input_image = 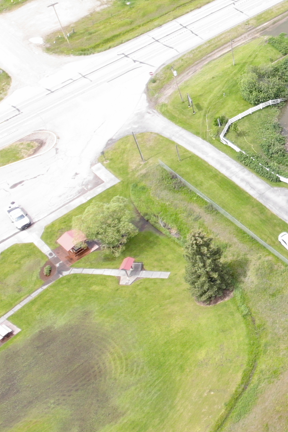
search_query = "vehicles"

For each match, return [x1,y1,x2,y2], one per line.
[0,200,29,228]
[274,227,288,249]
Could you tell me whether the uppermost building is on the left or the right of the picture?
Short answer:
left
